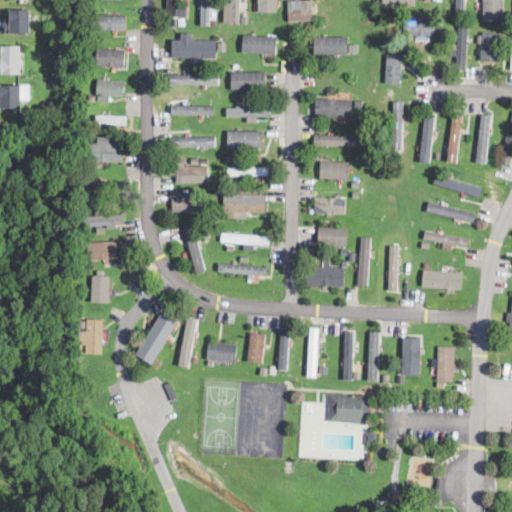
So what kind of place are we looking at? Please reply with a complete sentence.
It's a residential area.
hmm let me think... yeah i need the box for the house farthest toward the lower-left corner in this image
[79,320,108,356]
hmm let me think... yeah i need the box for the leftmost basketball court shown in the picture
[203,380,240,454]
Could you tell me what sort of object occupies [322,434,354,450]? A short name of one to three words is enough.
swimming pool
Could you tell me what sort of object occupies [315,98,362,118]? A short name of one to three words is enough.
house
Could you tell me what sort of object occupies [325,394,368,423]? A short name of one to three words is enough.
building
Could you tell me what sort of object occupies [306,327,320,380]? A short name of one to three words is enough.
house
